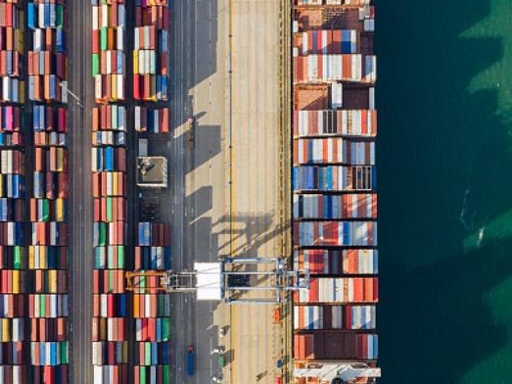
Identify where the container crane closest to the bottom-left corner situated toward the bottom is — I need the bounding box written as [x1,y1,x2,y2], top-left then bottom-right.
[123,268,179,292]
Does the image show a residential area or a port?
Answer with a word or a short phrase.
port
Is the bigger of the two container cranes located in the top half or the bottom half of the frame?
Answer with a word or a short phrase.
bottom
